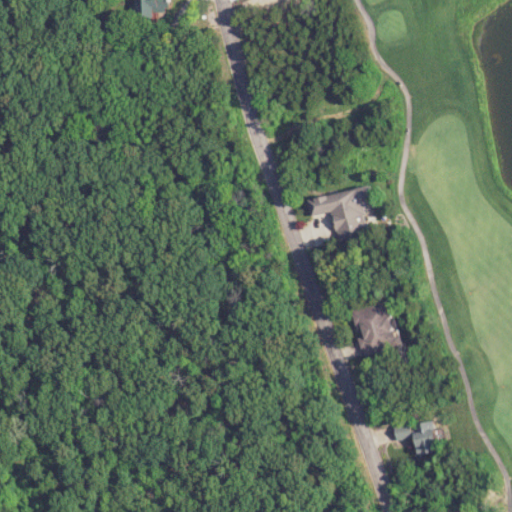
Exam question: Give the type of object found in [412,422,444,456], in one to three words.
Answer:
house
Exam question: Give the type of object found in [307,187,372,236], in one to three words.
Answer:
house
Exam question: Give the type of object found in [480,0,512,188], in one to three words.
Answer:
pond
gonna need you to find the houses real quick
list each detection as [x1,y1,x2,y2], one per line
[412,422,444,456]
[142,0,168,20]
[307,187,372,236]
[353,306,404,358]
